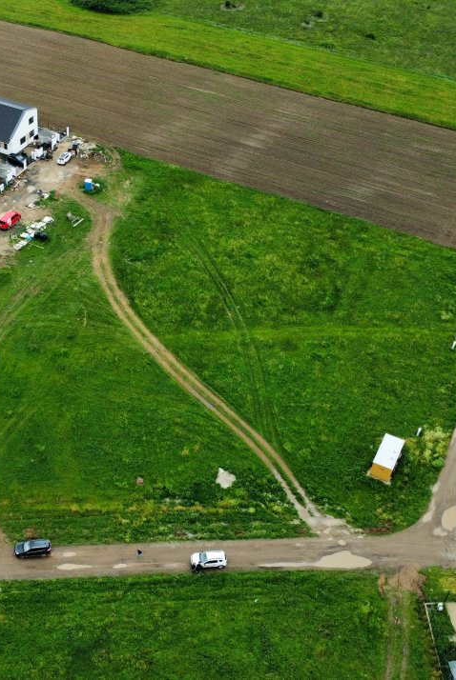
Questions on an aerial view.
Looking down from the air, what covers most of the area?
grass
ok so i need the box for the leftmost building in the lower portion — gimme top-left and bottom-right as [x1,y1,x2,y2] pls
[371,436,404,484]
